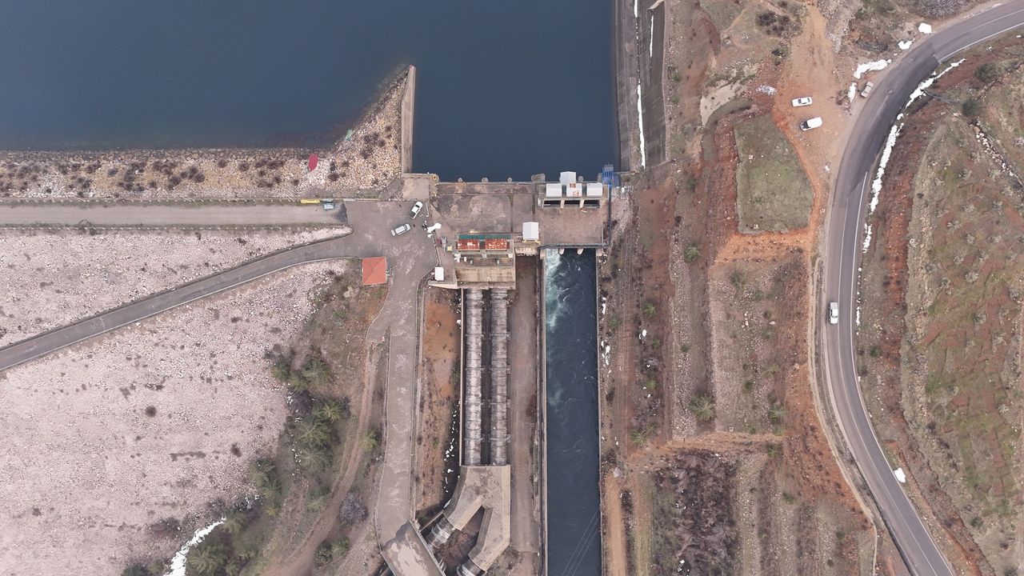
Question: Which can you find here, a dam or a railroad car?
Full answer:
Visible in the photo is a dam.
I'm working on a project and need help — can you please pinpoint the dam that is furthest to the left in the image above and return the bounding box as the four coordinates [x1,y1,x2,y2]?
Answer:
[0,59,411,576]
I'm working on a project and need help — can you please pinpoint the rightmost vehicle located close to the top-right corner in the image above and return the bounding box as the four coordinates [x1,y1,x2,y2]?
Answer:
[859,81,873,98]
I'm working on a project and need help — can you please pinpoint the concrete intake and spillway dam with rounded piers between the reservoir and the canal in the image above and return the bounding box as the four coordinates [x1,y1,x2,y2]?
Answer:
[433,173,607,260]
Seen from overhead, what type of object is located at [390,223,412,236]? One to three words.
vehicle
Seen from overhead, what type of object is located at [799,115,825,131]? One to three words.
vehicle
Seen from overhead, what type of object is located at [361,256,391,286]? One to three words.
building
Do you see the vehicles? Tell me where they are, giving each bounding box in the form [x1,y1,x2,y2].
[829,302,840,324]
[390,223,412,236]
[859,81,873,98]
[791,97,812,107]
[408,201,425,220]
[799,115,825,131]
